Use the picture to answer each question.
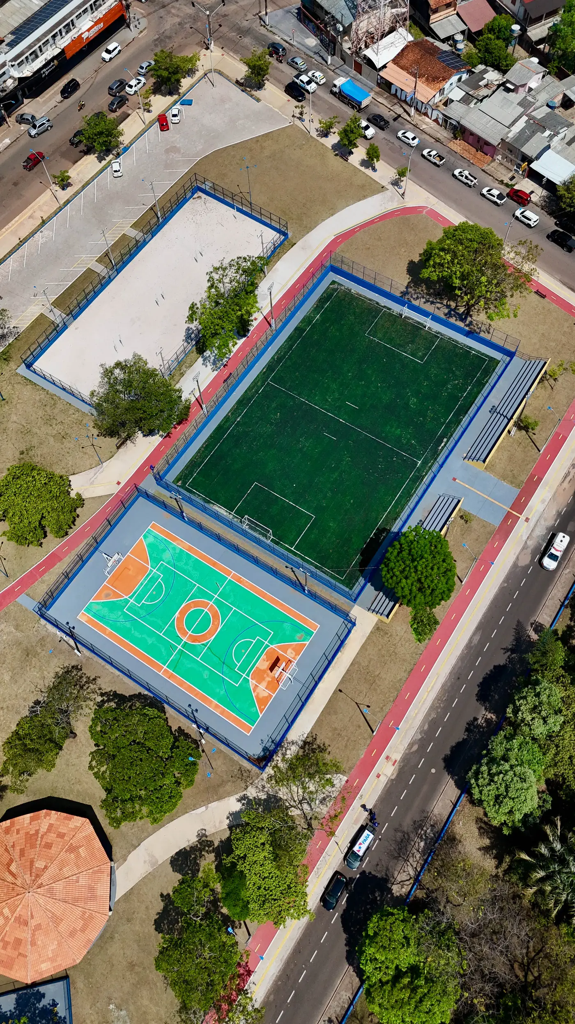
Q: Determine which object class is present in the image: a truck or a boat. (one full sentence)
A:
I can see a truck in this picture.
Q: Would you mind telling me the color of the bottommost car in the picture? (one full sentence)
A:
From above, the bottommost car appears black.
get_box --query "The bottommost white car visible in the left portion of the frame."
[109,160,123,178]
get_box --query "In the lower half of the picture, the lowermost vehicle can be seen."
[320,871,347,913]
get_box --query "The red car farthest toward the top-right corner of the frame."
[505,189,534,208]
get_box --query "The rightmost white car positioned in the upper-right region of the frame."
[512,209,542,228]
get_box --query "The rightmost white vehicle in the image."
[544,531,572,572]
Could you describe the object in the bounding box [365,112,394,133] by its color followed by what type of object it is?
black truck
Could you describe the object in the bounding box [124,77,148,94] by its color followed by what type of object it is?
white car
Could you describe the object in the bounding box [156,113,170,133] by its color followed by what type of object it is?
red car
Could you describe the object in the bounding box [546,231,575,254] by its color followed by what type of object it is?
black truck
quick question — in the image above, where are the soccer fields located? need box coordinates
[160,269,511,602]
